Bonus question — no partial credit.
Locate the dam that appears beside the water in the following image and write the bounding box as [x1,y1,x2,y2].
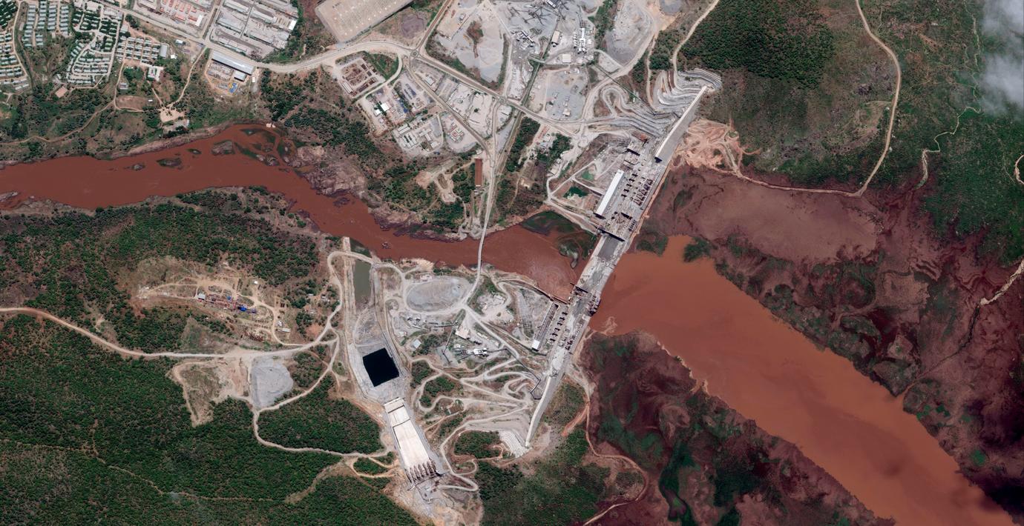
[526,85,706,445]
